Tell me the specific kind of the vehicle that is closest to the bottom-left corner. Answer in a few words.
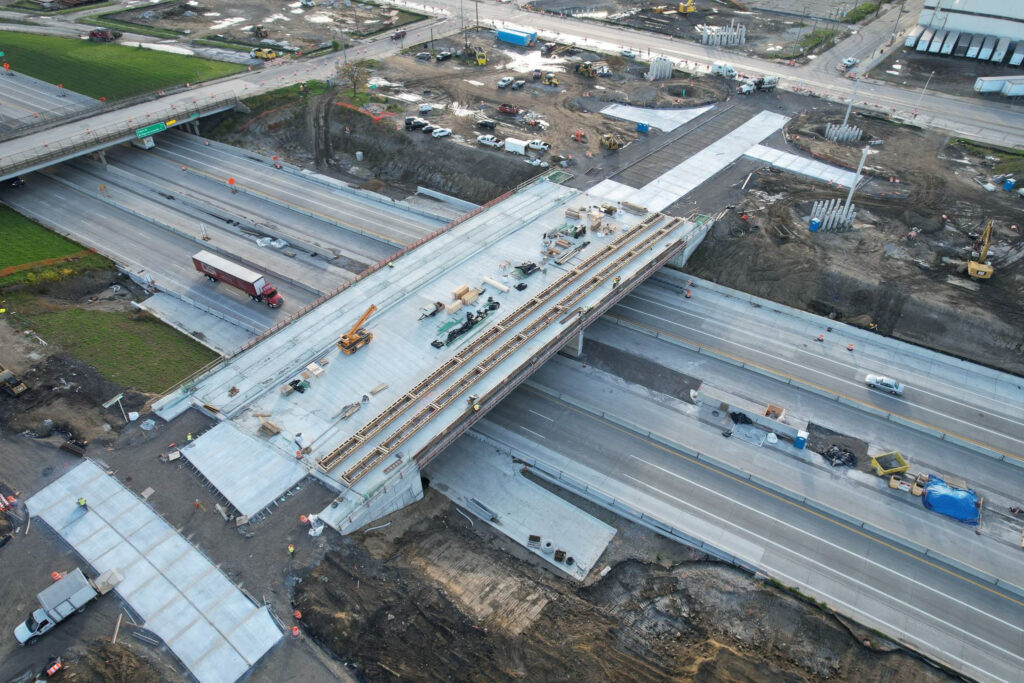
truck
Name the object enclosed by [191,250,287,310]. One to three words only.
truck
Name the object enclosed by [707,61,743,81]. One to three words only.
vehicle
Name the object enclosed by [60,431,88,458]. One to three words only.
work vehicle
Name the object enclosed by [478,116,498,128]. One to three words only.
vehicle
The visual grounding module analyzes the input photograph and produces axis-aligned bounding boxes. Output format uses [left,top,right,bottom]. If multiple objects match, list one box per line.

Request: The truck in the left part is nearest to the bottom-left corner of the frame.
[4,553,121,640]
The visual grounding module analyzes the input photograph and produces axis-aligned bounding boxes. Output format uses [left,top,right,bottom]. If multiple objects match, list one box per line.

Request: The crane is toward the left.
[333,301,376,356]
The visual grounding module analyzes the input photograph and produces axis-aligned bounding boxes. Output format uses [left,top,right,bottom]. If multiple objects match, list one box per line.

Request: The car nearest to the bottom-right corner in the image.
[868,375,905,394]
